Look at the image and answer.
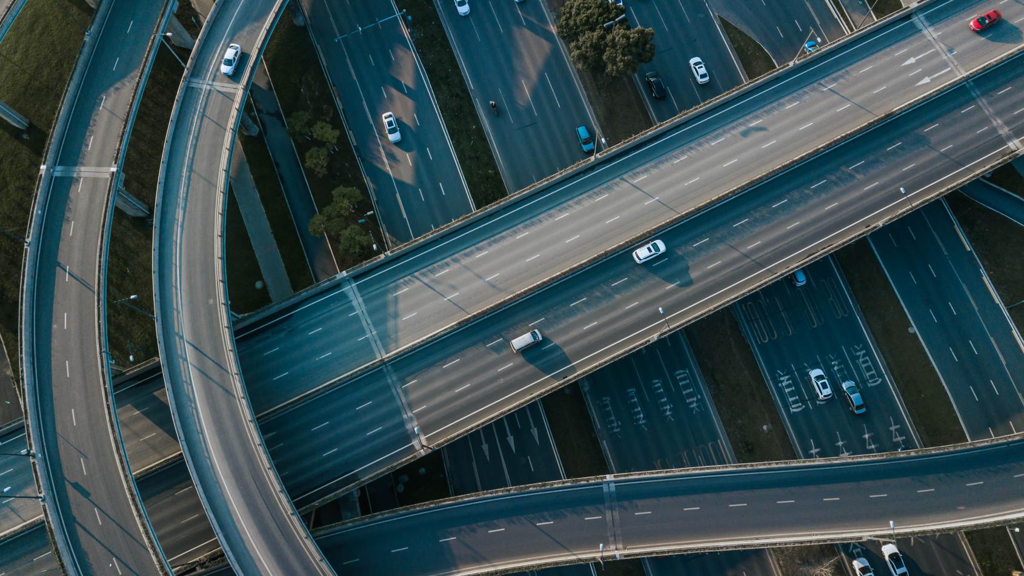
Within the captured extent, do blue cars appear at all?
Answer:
Yes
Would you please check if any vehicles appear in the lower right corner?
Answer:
Yes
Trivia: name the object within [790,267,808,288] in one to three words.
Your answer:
car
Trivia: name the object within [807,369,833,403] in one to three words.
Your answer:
car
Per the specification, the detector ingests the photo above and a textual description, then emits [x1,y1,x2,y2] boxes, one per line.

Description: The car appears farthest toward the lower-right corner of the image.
[880,540,908,576]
